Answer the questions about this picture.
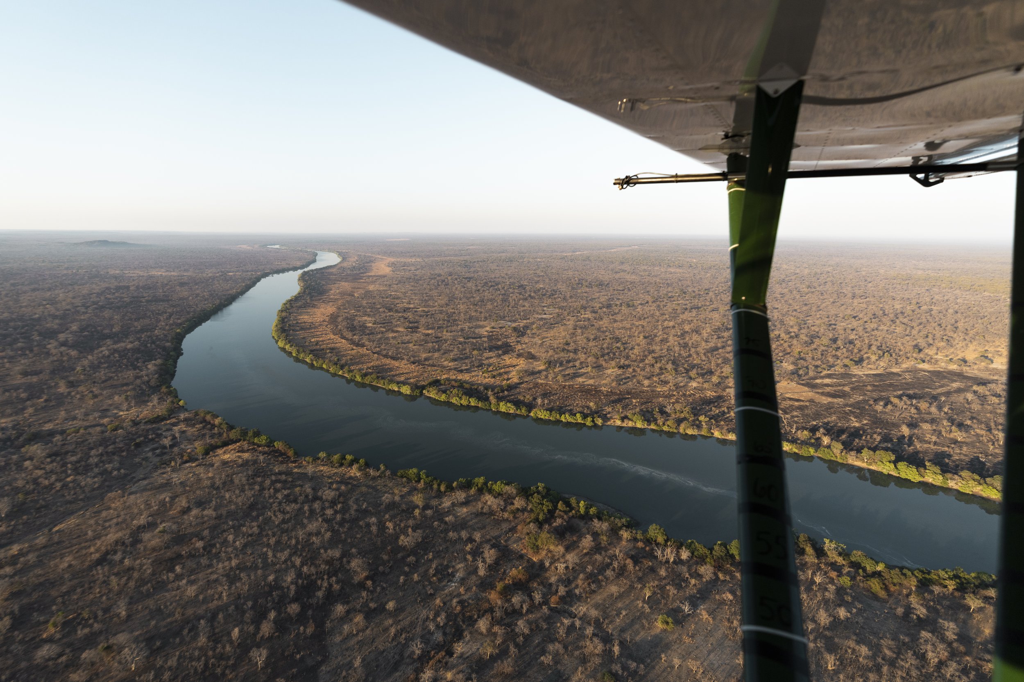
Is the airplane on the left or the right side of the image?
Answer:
right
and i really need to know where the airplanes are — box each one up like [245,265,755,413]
[322,0,1024,682]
